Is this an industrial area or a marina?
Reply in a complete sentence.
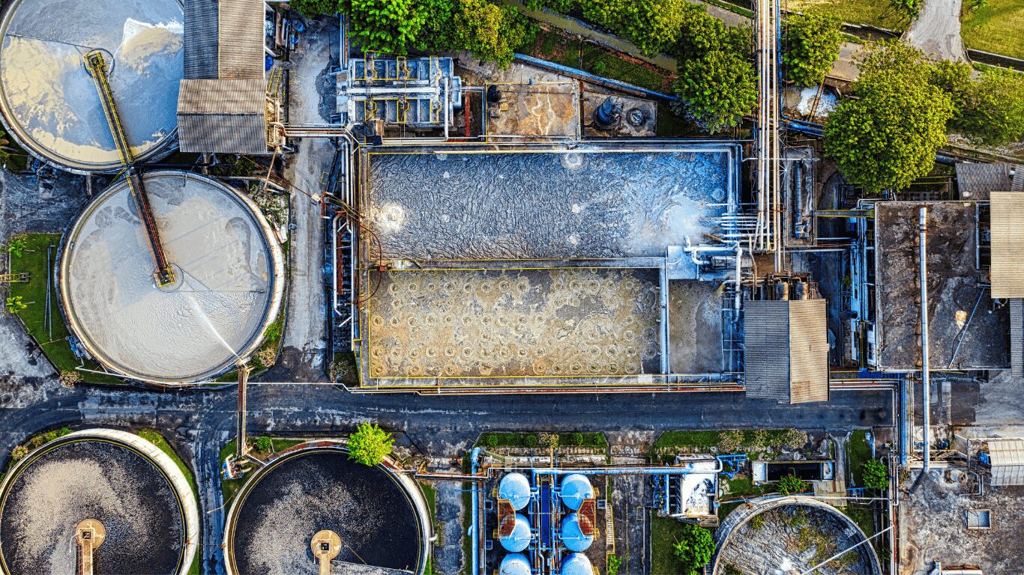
The area seen from above is an industrial area.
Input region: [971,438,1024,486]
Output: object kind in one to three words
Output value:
shed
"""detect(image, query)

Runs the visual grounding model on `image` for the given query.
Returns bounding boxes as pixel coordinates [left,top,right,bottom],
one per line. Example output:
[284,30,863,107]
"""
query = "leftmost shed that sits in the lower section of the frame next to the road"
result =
[737,300,829,405]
